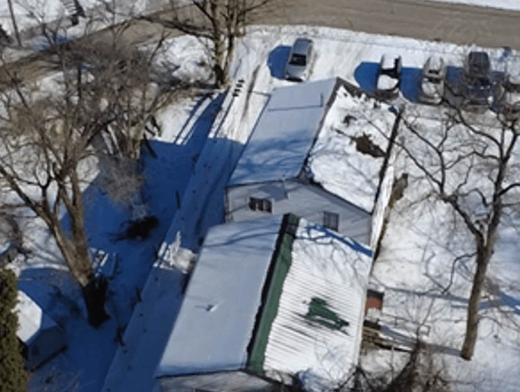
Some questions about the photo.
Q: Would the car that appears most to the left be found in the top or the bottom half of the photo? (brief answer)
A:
top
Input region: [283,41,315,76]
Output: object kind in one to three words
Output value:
car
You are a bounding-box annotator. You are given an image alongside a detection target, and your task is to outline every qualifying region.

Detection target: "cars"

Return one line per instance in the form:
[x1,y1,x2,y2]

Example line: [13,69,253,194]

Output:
[418,63,446,102]
[283,41,315,76]
[464,55,495,104]
[373,58,401,96]
[501,71,520,109]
